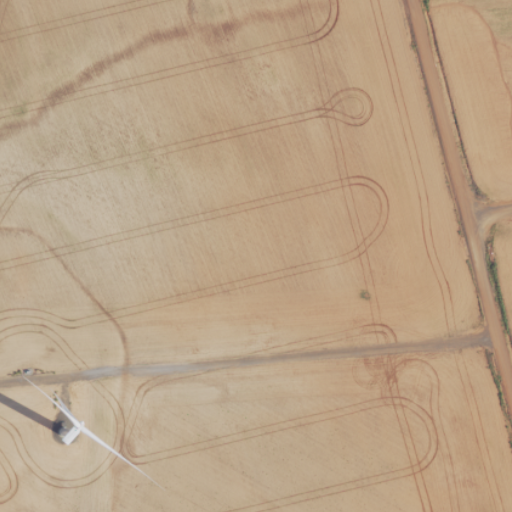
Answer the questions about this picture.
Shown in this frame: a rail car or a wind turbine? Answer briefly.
wind turbine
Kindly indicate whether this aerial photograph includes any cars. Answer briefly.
No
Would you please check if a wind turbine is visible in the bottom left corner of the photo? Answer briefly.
Yes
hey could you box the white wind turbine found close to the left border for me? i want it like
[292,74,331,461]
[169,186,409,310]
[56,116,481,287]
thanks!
[26,380,166,491]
